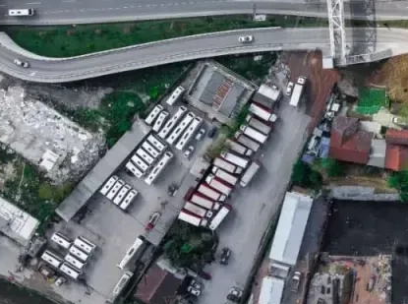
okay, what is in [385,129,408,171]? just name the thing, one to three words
house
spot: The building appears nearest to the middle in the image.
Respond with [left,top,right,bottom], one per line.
[200,71,249,116]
